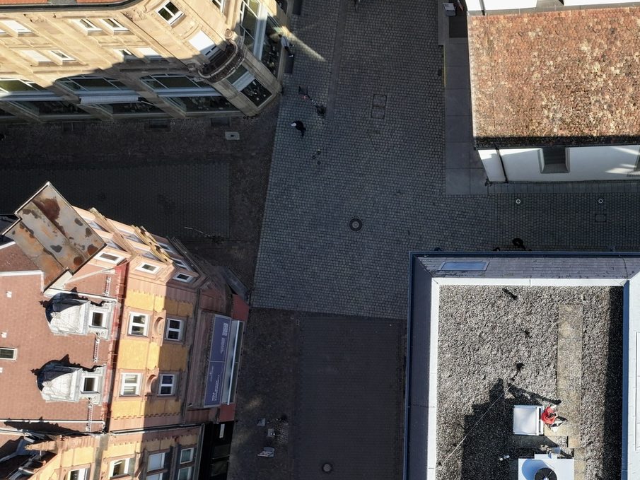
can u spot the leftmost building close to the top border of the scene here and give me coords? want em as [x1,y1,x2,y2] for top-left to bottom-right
[0,0,297,126]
